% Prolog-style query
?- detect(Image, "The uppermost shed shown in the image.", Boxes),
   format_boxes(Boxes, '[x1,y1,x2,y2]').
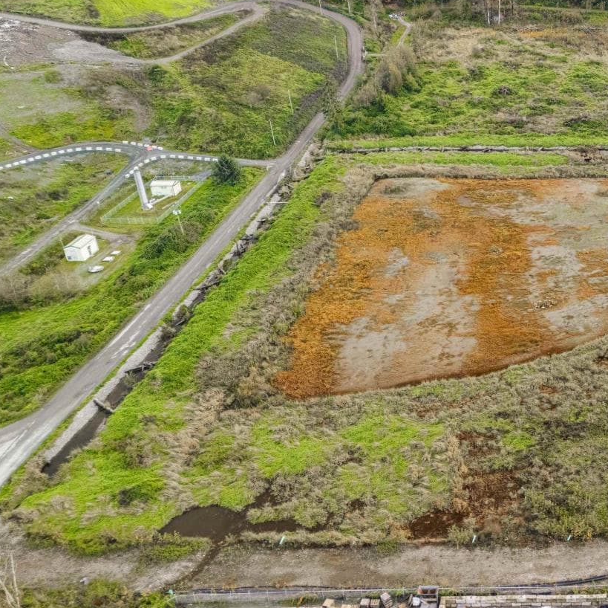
[149,181,179,197]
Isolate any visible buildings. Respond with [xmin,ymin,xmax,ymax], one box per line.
[149,181,179,197]
[61,236,93,261]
